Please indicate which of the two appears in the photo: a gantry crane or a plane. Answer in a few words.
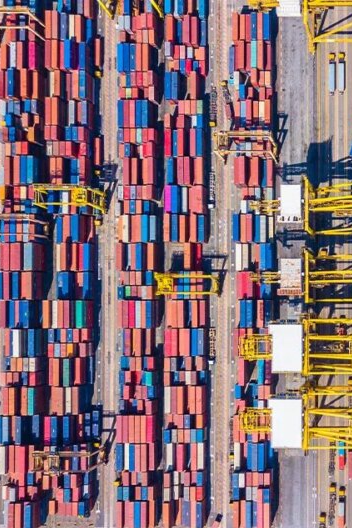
gantry crane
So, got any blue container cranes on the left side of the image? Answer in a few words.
No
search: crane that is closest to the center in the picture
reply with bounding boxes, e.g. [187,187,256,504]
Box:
[155,273,221,298]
